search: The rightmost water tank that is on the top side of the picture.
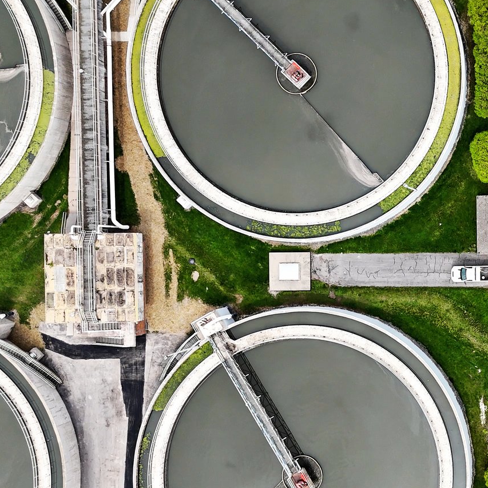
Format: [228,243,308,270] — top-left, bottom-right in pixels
[130,0,469,246]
